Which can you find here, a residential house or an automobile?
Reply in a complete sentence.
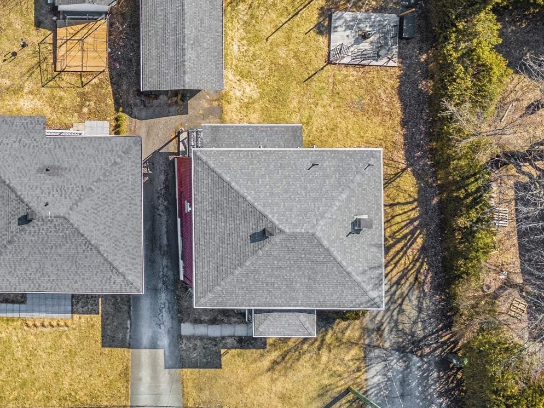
It is a residential house that can be seen here.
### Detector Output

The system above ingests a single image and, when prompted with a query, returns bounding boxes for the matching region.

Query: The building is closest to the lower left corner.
[0,116,145,293]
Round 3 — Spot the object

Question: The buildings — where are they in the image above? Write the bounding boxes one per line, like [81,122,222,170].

[172,124,386,338]
[0,116,145,293]
[55,0,116,11]
[138,0,225,90]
